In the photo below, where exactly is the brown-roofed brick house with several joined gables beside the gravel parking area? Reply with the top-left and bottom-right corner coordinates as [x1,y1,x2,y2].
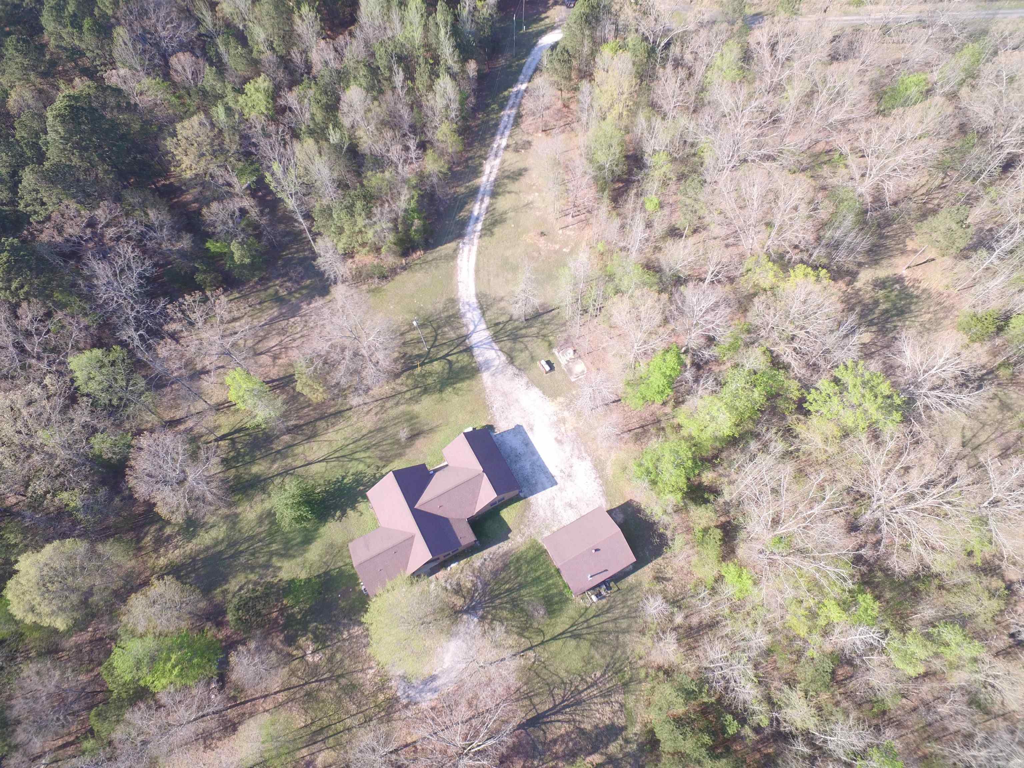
[349,425,521,597]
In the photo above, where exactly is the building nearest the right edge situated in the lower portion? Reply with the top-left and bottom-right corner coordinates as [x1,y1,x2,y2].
[542,506,637,597]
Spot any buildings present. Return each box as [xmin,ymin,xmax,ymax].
[542,506,637,597]
[349,425,521,597]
